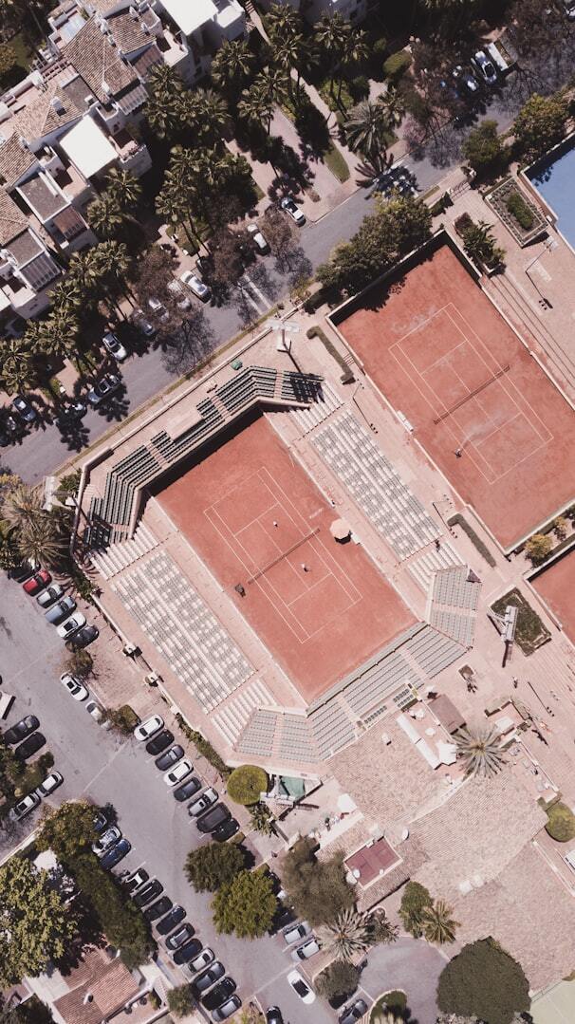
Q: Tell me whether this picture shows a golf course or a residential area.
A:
residential area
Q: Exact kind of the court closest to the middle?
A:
tennis court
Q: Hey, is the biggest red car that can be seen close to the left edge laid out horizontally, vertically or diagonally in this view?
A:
diagonally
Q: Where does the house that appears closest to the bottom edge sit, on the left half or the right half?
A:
left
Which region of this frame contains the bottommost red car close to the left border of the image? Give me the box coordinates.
[23,570,53,594]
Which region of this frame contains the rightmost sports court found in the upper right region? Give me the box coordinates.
[528,143,575,236]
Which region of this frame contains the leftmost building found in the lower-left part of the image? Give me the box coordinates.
[21,937,179,1024]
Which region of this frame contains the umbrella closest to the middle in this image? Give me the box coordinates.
[330,519,350,539]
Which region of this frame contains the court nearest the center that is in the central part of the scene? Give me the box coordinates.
[146,407,417,703]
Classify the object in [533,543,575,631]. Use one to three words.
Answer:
tennis court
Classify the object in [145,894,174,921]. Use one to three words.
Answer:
car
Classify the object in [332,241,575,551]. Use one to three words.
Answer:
tennis court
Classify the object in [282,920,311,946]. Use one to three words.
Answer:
car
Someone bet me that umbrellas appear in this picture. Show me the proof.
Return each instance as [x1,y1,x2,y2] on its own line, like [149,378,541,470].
[415,707,425,718]
[424,682,435,693]
[424,724,434,736]
[330,519,350,539]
